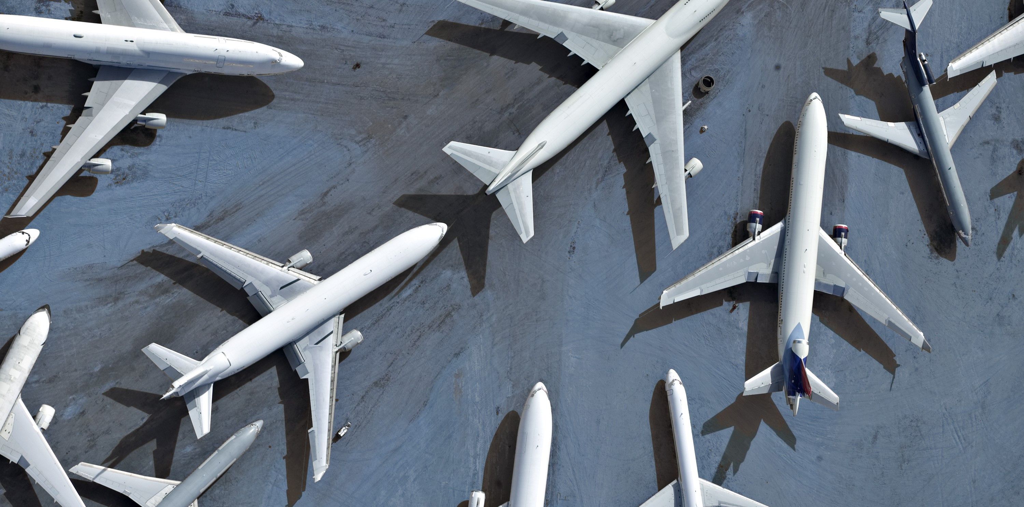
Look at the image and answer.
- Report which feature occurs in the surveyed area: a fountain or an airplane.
airplane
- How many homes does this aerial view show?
0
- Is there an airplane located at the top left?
Yes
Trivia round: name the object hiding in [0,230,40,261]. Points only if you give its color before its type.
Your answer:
white airplane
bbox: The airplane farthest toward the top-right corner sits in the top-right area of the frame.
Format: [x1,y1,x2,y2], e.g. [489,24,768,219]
[946,11,1024,79]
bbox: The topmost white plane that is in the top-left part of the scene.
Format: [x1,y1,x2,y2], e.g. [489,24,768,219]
[0,0,304,221]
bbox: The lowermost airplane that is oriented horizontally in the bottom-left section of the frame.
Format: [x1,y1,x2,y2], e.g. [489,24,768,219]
[69,420,264,507]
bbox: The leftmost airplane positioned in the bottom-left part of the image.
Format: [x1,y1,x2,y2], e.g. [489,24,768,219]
[0,304,85,507]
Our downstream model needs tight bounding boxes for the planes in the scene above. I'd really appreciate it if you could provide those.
[0,304,85,507]
[69,420,264,507]
[0,230,40,261]
[0,0,304,221]
[657,92,929,416]
[946,11,1024,79]
[442,0,735,256]
[502,382,551,507]
[142,223,447,484]
[838,0,997,246]
[639,369,767,507]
